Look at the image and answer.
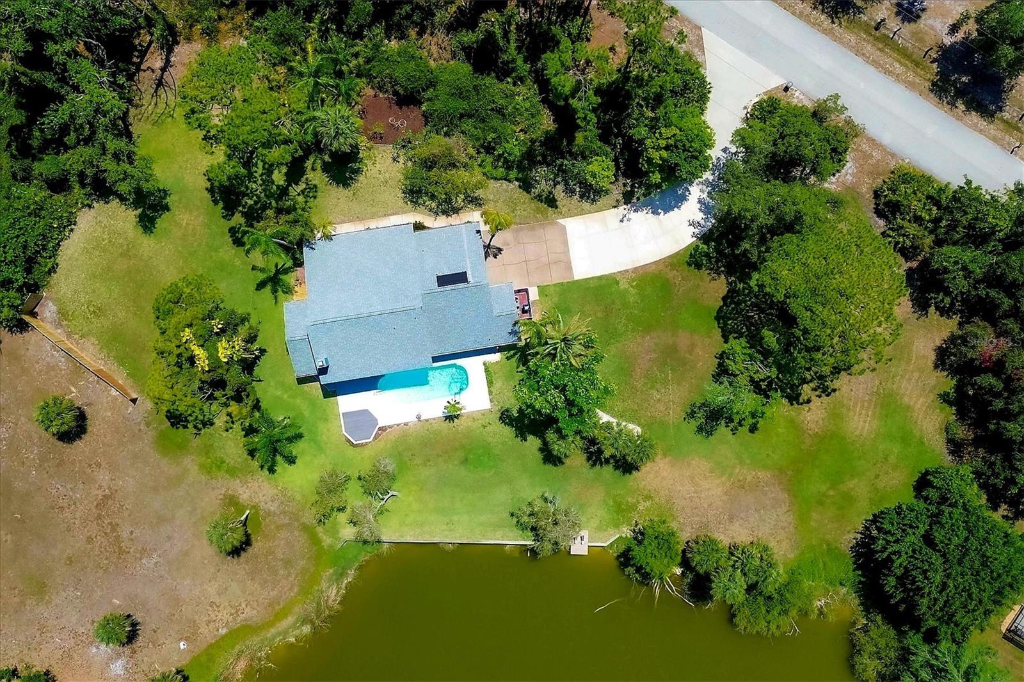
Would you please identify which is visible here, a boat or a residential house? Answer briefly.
residential house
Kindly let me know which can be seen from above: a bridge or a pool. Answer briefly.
pool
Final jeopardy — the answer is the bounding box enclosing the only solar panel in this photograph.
[436,270,468,286]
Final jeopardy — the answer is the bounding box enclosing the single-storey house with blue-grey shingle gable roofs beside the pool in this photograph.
[284,221,521,385]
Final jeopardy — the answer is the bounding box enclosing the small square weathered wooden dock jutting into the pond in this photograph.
[570,530,589,556]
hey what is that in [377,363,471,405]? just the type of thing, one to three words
swimming pool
